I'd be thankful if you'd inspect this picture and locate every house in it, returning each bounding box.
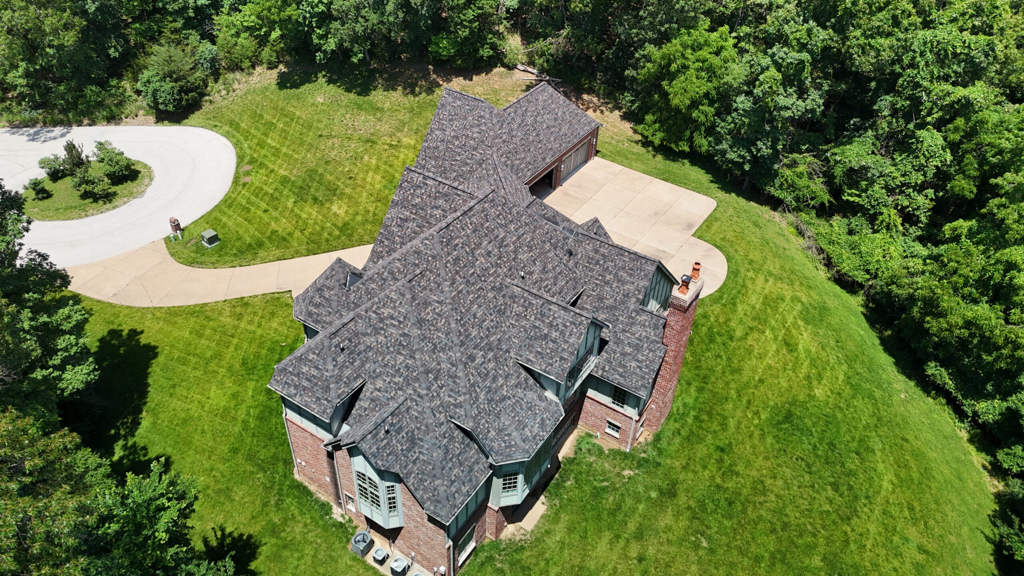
[265,82,703,576]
